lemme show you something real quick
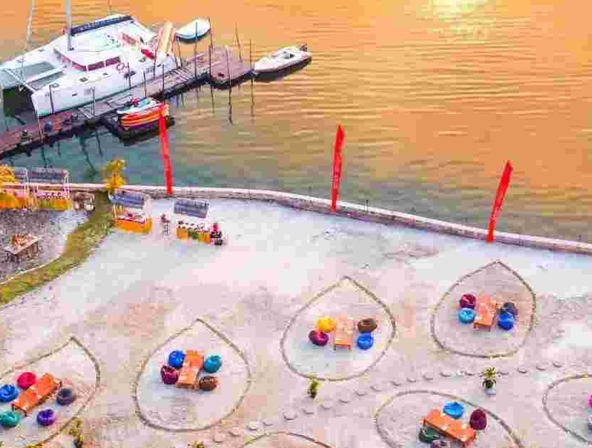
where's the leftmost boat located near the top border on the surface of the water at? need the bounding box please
[0,0,181,119]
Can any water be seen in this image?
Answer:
Yes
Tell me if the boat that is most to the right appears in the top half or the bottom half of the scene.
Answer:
top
